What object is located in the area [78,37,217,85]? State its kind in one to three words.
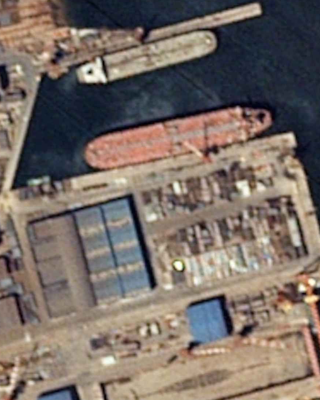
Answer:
ship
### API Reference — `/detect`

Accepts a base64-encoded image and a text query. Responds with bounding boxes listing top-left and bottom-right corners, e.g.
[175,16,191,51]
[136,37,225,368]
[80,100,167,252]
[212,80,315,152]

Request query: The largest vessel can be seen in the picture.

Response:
[84,102,274,167]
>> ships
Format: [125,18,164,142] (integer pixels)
[84,102,274,167]
[78,37,217,85]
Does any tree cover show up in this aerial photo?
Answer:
No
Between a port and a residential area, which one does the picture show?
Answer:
port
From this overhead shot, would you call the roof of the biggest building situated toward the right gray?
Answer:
No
